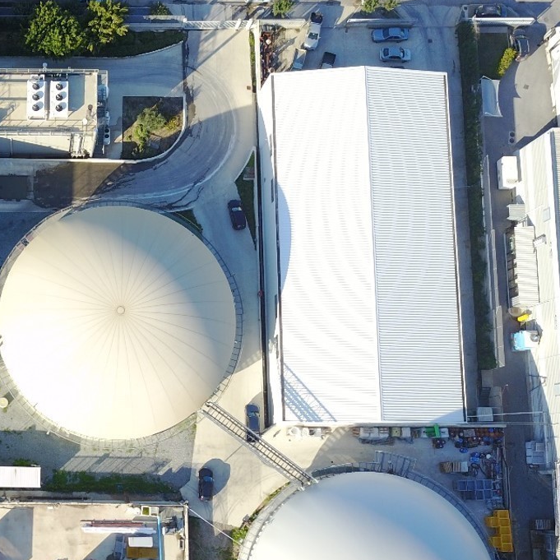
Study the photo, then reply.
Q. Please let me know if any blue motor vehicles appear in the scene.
Yes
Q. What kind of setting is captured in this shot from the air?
industrial area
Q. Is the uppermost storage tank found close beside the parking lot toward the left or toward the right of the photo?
left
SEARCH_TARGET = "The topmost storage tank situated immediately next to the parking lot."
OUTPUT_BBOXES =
[0,199,245,454]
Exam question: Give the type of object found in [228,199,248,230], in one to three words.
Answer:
car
